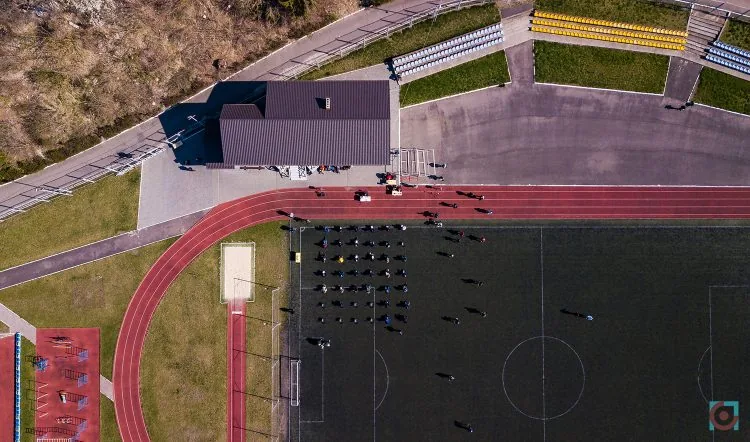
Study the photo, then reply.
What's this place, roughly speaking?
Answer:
sports ground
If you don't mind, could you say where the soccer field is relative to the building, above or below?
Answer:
below it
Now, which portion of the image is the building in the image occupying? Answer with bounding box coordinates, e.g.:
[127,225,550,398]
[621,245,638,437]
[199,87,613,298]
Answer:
[206,81,390,172]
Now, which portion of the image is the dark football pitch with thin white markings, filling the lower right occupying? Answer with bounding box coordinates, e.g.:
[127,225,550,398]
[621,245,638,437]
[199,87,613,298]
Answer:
[289,216,750,442]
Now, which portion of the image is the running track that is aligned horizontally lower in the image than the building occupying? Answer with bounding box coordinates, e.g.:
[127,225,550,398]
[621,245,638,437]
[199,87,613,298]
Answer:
[112,186,750,442]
